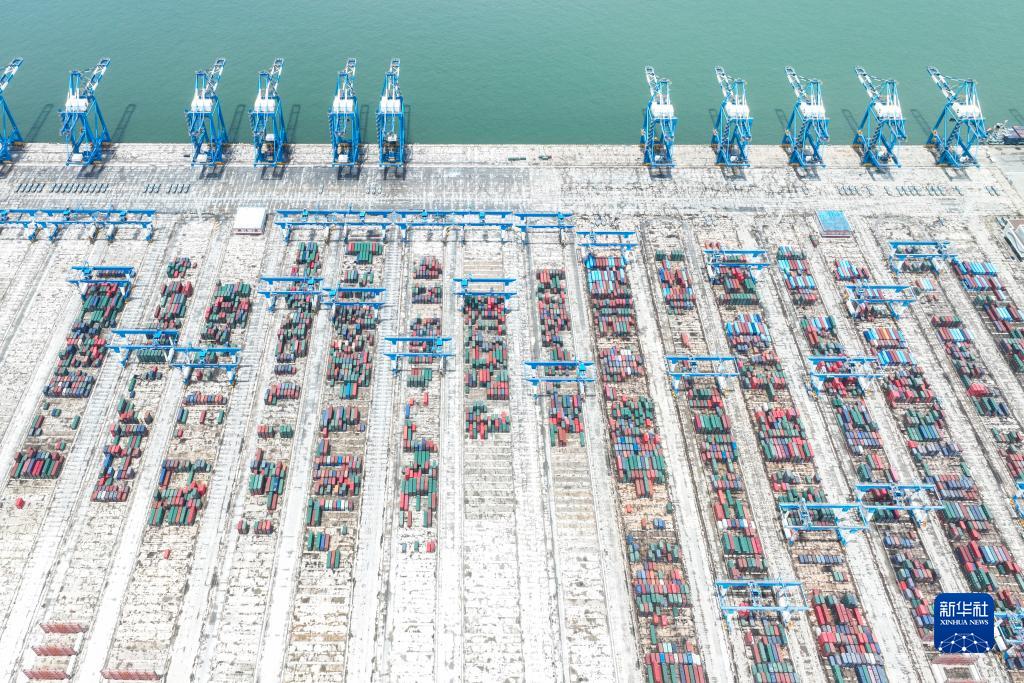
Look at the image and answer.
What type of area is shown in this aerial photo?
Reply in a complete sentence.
The picture captures a port.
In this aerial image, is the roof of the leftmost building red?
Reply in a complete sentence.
No, the roof of the leftmost building is white.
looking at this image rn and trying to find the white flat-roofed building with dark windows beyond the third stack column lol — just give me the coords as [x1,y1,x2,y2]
[231,208,270,235]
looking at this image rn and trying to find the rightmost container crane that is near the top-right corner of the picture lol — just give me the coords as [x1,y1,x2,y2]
[928,66,991,167]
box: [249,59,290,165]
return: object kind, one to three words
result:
container crane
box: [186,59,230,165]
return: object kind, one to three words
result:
container crane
